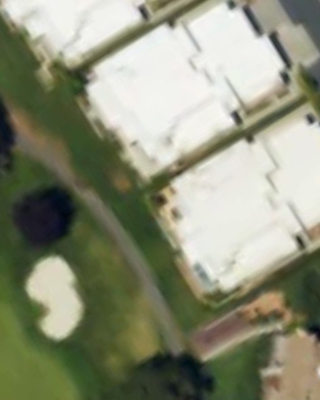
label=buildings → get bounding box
[86,0,291,180]
[265,337,320,400]
[172,106,320,288]
[2,0,153,62]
